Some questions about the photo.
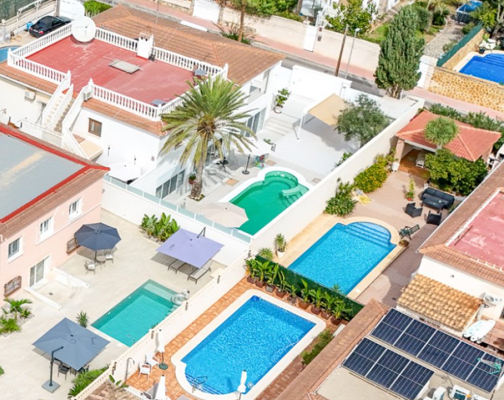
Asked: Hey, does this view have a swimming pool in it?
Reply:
Yes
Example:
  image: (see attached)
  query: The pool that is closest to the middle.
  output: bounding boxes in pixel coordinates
[195,167,315,245]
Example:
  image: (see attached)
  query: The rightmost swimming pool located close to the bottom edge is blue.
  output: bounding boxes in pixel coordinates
[166,288,327,400]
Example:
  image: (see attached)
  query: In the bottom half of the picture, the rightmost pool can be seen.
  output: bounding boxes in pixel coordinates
[278,214,409,299]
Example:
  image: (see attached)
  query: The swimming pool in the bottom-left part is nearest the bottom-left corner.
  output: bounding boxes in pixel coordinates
[84,275,187,347]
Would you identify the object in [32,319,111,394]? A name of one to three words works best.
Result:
umbrella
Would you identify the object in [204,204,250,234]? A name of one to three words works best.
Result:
umbrella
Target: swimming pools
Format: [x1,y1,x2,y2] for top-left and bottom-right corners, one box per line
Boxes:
[278,214,409,299]
[166,288,327,400]
[0,41,31,63]
[448,50,504,87]
[84,275,187,347]
[195,167,315,245]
